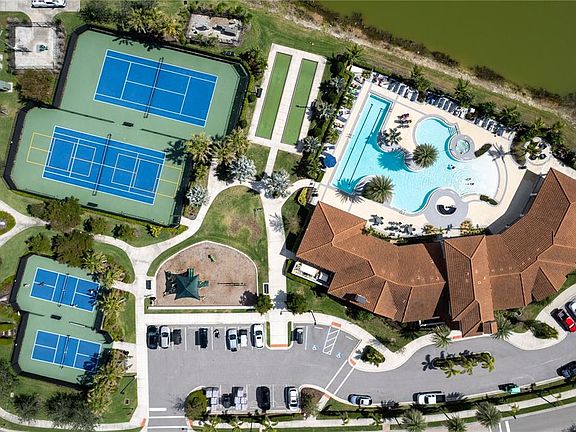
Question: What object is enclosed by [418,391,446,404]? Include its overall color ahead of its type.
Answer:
white vehicle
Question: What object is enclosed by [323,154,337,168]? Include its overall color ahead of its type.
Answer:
blue umbrella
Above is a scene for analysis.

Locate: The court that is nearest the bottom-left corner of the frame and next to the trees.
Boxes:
[20,315,112,392]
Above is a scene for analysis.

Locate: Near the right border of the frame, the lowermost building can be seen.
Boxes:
[442,168,576,338]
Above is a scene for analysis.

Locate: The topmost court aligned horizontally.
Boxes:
[58,30,248,148]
